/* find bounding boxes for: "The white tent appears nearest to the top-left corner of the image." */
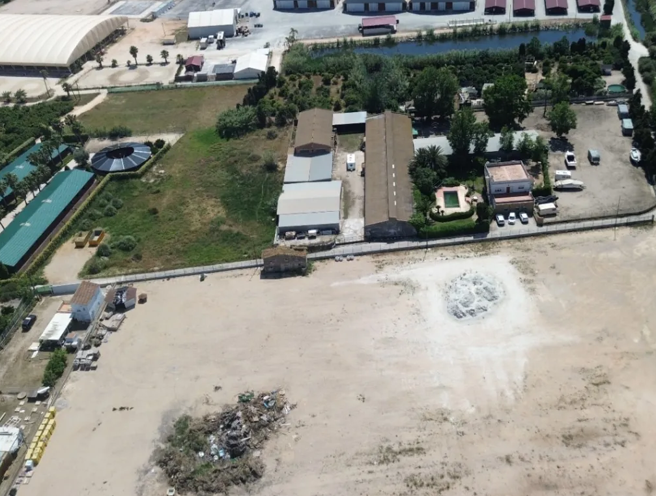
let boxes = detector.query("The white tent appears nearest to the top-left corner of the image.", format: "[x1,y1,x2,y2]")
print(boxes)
[186,12,235,38]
